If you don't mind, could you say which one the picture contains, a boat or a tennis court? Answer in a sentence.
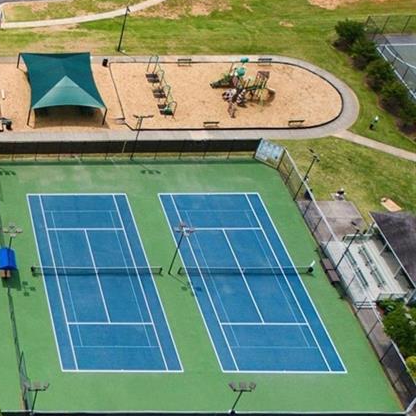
The image shows a tennis court.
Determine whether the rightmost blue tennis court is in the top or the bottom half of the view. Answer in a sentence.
Seen from above, the rightmost blue tennis court lies in the bottom half of the view.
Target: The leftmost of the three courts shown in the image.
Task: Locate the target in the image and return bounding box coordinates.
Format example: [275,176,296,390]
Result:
[27,193,183,372]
